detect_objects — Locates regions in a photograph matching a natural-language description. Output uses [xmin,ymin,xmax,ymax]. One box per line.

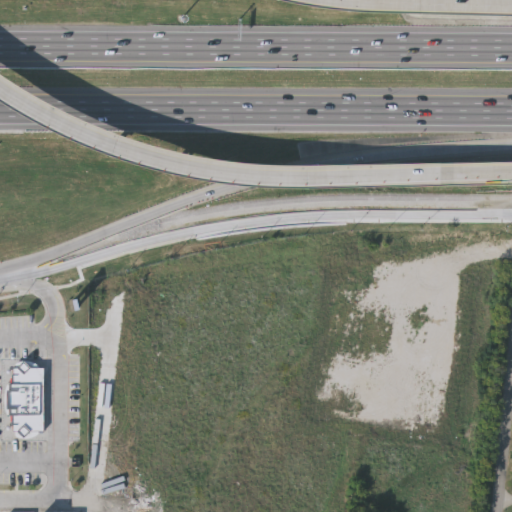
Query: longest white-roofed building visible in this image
[4,361,44,438]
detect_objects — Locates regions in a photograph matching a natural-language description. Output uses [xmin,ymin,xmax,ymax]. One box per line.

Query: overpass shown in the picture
[0,74,512,188]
